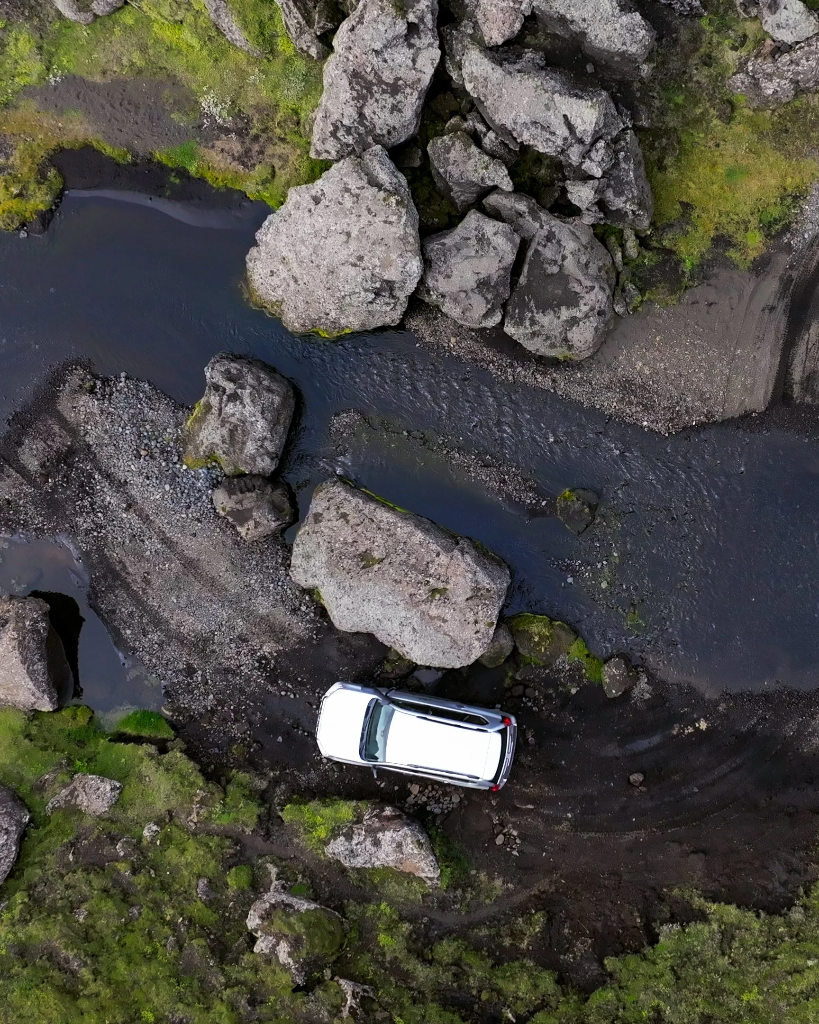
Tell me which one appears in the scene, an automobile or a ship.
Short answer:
automobile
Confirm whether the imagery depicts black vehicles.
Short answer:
No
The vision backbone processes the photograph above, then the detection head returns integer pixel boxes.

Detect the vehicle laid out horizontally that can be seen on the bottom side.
[317,681,517,793]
